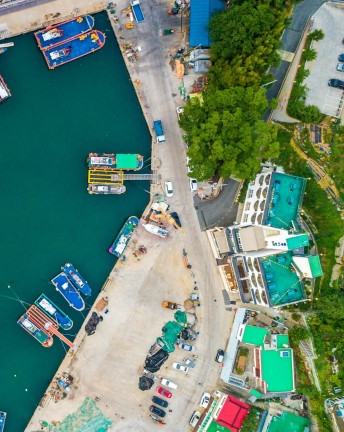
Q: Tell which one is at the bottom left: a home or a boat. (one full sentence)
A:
You can see a boat at the bottom left.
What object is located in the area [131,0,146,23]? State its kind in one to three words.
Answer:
vehicle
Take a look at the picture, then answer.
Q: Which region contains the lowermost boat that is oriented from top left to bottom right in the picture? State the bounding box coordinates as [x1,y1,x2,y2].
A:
[17,314,52,348]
